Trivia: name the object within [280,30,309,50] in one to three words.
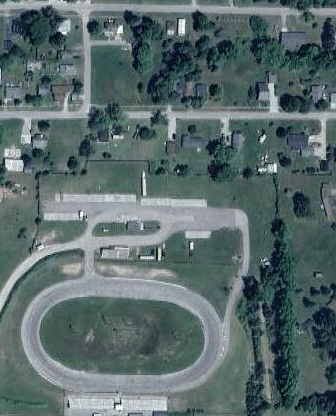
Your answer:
house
